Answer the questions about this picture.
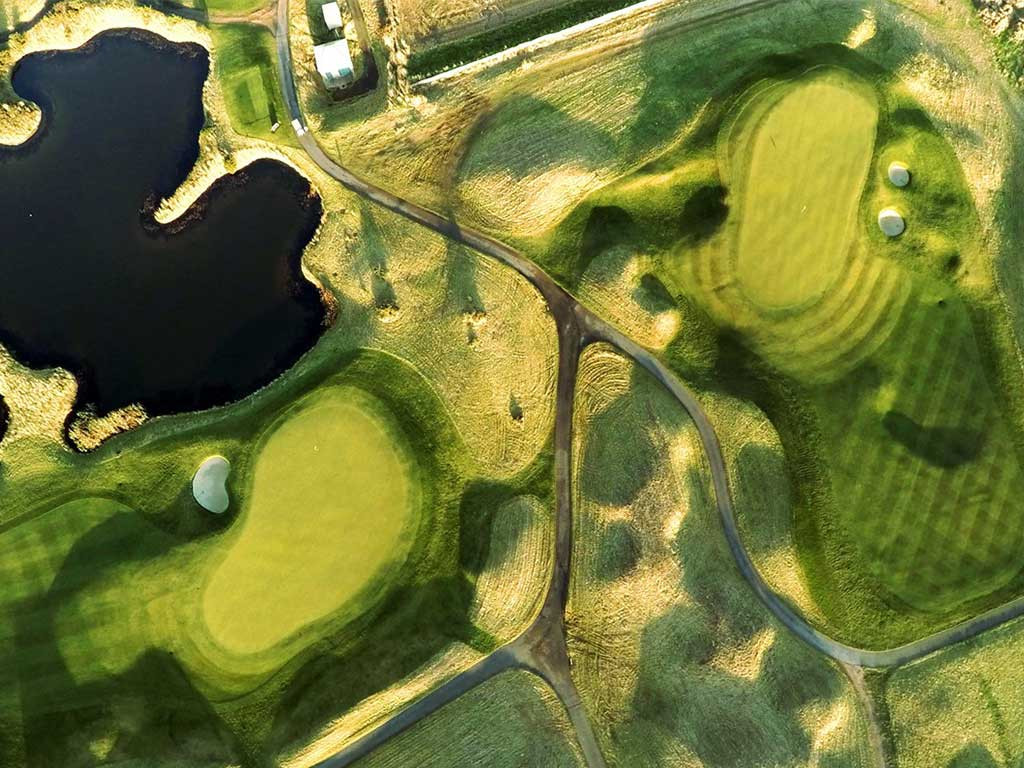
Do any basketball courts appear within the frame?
No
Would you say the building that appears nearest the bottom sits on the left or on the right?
left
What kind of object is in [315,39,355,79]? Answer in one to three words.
building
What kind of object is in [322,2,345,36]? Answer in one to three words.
shed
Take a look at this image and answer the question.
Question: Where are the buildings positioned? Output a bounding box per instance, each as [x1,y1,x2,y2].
[322,2,345,36]
[315,39,355,79]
